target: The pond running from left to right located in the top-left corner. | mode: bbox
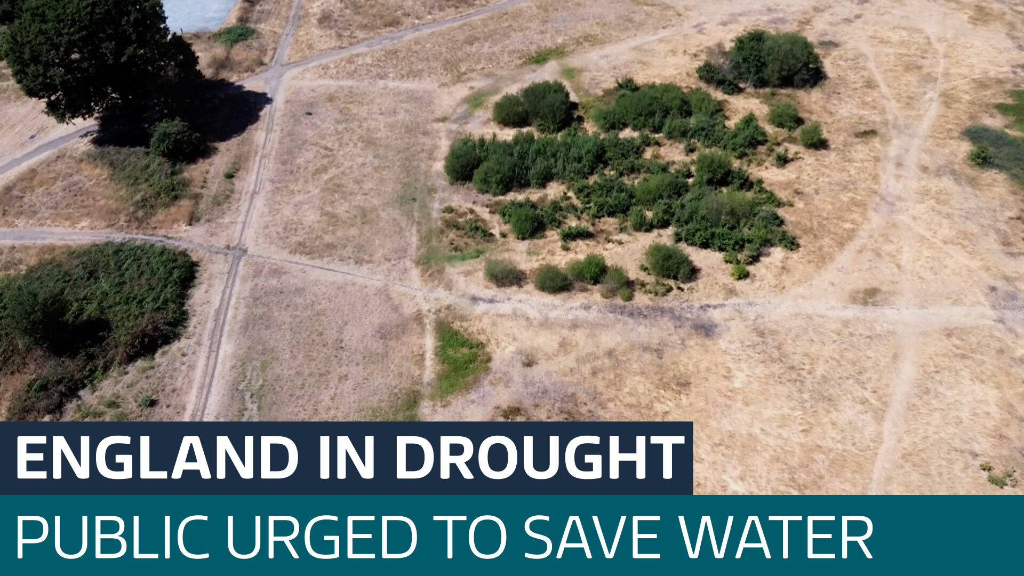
[70,0,236,37]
